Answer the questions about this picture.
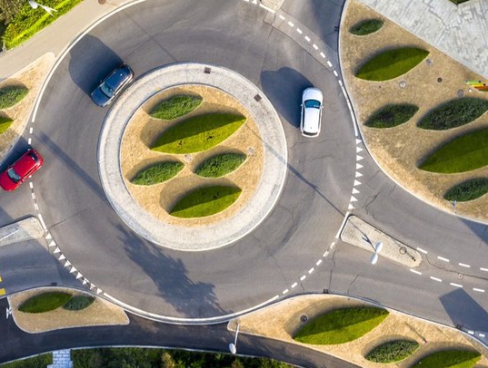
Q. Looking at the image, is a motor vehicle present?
Yes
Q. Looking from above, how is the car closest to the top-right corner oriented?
up and down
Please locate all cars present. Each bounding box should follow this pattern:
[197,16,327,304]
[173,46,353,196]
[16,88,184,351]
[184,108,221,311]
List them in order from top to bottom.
[91,62,137,107]
[299,88,325,137]
[0,147,46,191]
